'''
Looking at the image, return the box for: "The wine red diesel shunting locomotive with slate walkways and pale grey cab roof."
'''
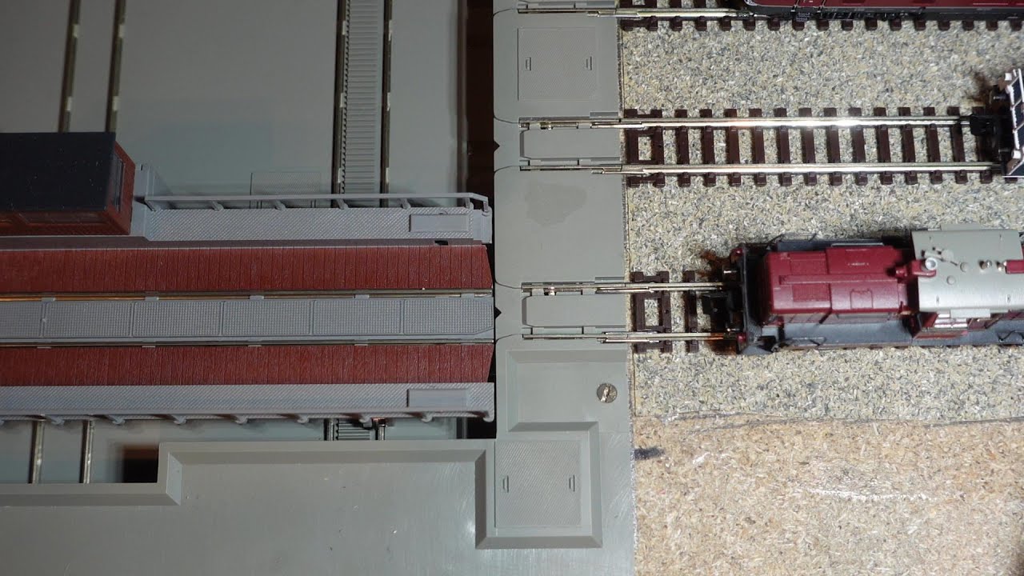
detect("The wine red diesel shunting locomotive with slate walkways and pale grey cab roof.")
[701,225,1024,360]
